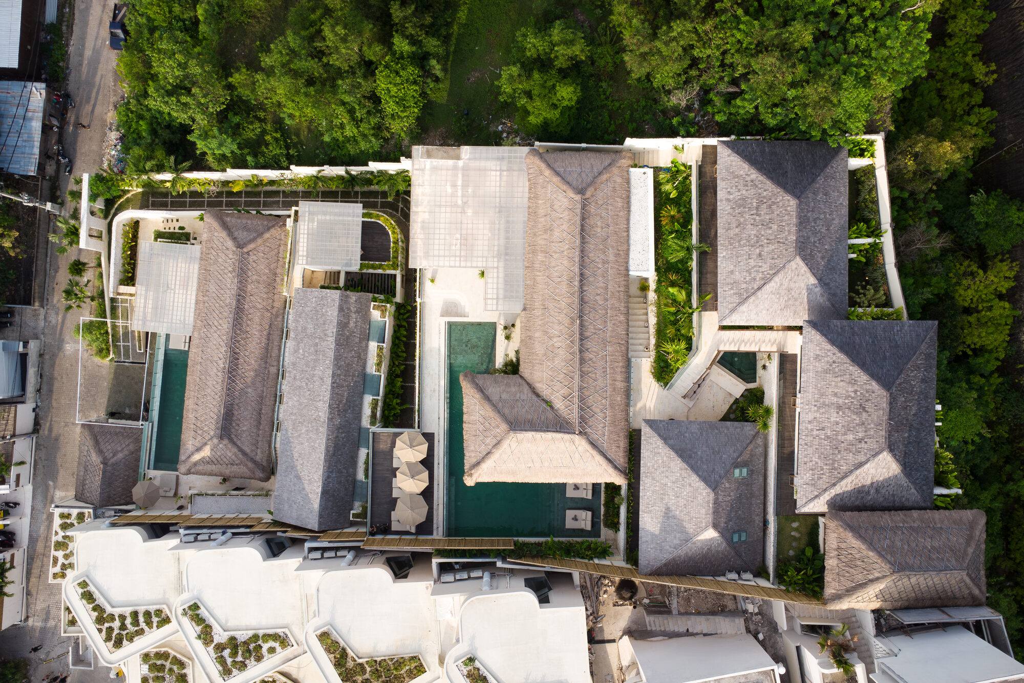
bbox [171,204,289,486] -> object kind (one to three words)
house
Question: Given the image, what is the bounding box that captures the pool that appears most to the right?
[722,354,756,383]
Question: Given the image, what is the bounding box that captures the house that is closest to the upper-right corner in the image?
[716,140,849,327]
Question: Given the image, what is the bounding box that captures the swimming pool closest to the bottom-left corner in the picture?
[150,335,189,469]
